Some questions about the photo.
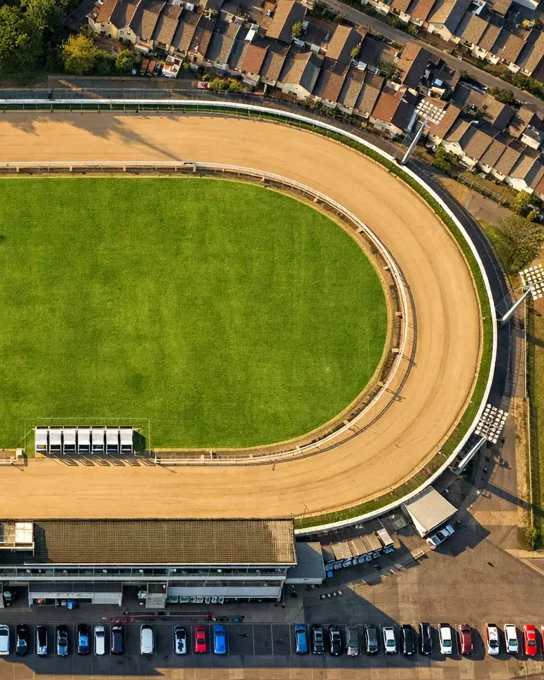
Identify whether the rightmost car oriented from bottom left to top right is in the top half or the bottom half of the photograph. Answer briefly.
bottom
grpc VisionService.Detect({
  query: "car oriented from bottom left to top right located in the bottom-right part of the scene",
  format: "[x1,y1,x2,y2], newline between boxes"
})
[425,525,455,550]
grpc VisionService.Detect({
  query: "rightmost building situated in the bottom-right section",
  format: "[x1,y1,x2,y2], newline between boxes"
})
[400,486,457,535]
